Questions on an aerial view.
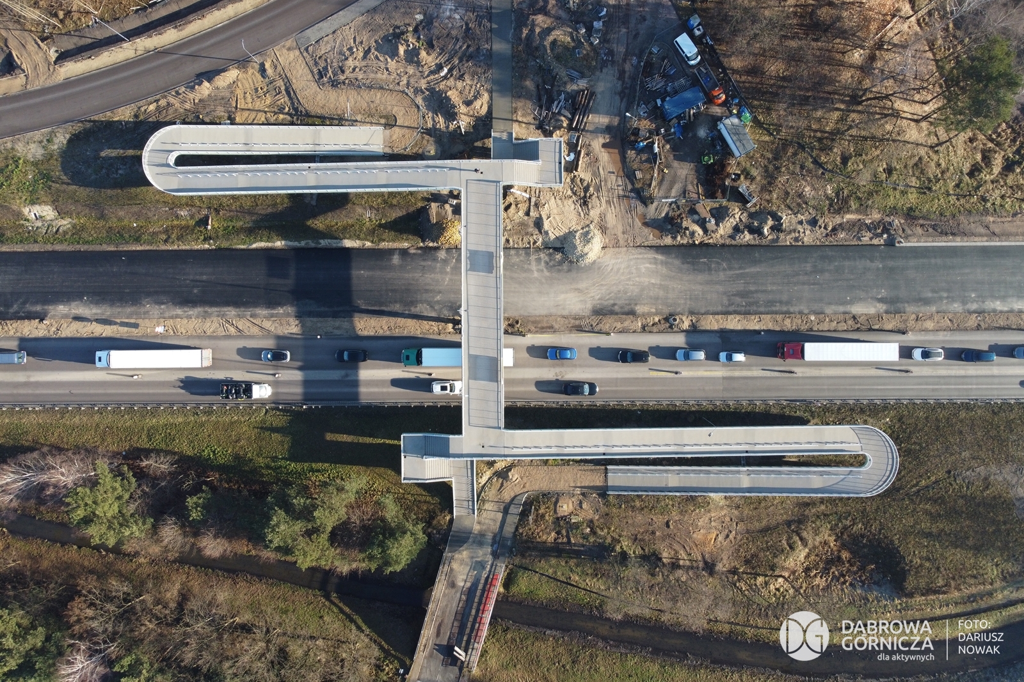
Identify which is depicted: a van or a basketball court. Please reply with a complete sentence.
It is a van that can be seen here.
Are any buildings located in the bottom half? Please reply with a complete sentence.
No, no building is visible in the bottom half.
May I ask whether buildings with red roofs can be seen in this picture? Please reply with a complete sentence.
No, I can see no building with a red roof in this picture.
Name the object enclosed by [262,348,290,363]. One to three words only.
car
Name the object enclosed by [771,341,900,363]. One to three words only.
truck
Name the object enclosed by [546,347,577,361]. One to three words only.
car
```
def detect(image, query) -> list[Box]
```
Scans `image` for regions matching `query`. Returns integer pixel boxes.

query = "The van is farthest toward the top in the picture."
[674,25,703,65]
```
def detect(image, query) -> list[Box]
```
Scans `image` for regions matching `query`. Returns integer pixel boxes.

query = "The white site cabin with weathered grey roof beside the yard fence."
[719,107,762,158]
